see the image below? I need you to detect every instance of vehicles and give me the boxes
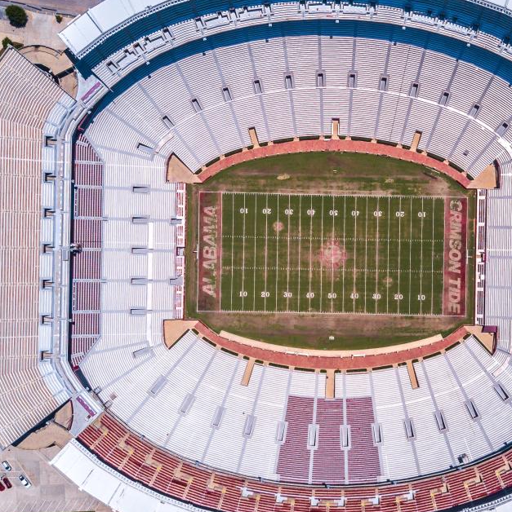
[0,481,6,491]
[1,459,13,473]
[18,474,31,489]
[2,476,14,489]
